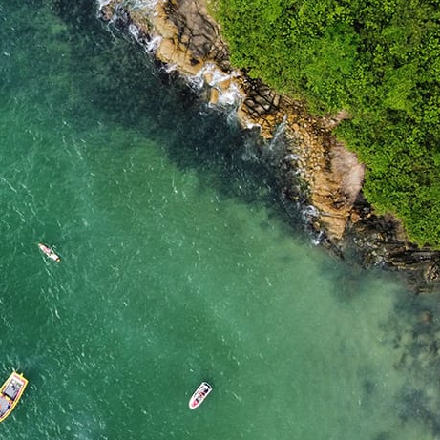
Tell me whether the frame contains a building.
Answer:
No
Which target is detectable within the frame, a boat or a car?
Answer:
boat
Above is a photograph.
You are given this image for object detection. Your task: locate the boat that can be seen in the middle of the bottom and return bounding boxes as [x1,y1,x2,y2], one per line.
[190,380,214,410]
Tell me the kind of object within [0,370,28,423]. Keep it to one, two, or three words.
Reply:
boat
